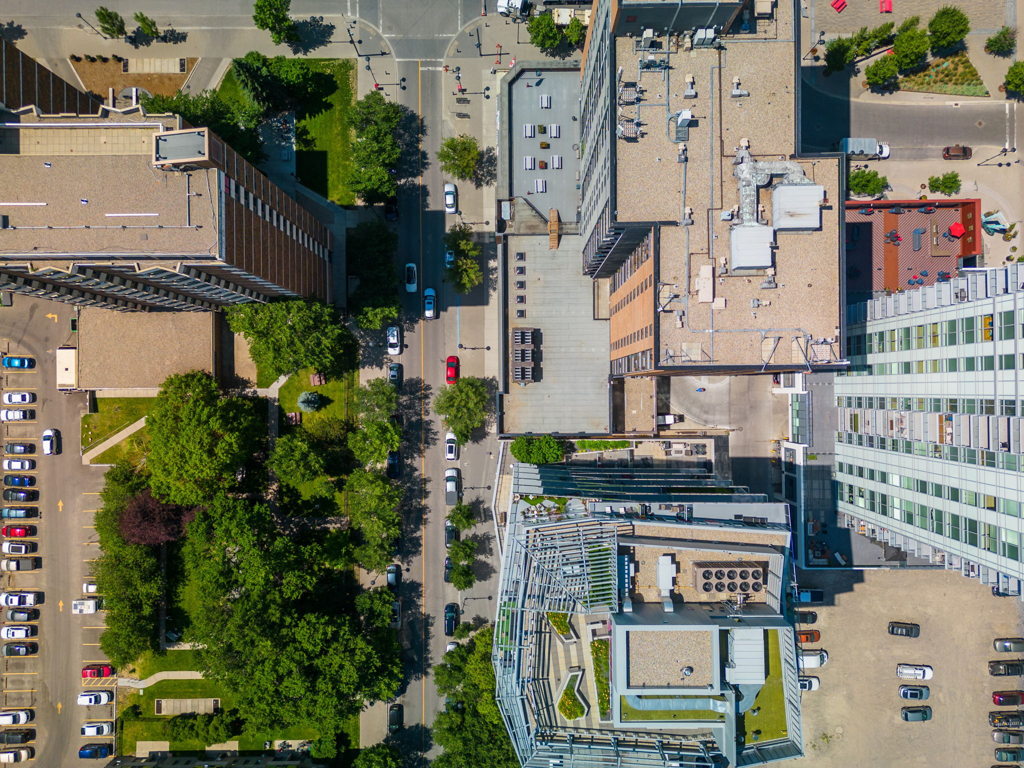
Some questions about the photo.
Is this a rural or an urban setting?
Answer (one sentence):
This place is urban.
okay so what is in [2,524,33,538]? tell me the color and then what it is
red car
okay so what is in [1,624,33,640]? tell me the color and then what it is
white car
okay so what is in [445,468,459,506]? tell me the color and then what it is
gray vehicle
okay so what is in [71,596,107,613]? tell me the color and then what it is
white camper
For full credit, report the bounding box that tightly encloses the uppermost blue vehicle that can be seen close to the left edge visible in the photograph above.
[2,355,32,369]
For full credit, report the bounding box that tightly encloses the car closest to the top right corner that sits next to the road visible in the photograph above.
[941,145,972,160]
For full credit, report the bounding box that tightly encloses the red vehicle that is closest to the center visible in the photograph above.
[446,355,459,385]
